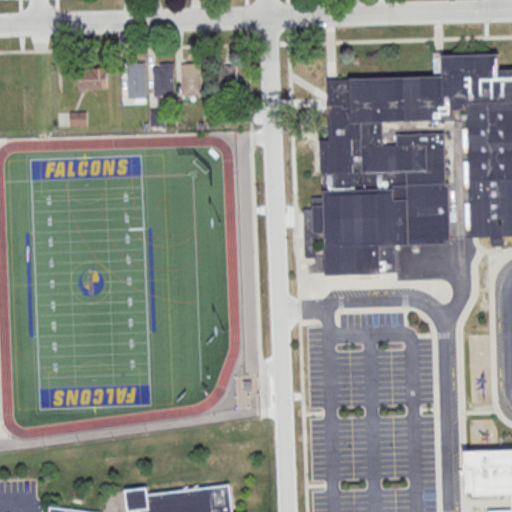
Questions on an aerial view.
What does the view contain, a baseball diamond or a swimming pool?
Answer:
baseball diamond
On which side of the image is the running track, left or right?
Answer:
left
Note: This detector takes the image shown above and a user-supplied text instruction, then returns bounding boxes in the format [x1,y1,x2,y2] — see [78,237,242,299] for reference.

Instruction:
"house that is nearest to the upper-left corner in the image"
[78,68,107,90]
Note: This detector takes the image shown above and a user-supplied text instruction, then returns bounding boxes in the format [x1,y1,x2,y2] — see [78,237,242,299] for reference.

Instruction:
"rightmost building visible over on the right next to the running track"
[304,52,512,275]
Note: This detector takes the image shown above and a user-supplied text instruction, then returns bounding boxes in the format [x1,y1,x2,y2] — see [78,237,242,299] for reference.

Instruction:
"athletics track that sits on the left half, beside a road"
[0,136,240,439]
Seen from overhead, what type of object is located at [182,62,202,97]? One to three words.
house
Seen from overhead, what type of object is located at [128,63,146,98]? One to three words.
house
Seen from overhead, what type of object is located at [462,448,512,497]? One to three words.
building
